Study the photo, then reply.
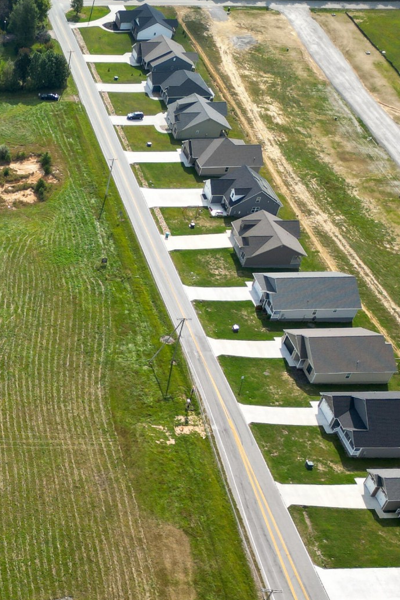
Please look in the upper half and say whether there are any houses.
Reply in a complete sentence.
Yes, you'll find a house in the upper half.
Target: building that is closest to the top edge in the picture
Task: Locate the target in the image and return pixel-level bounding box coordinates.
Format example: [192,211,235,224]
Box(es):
[115,4,182,41]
